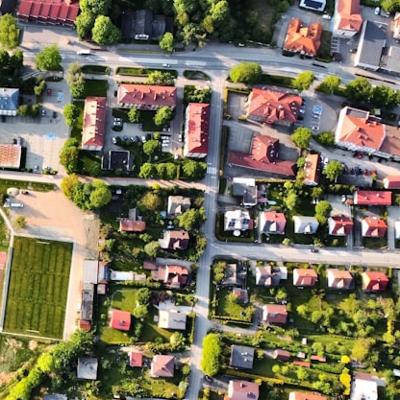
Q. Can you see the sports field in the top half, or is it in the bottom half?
bottom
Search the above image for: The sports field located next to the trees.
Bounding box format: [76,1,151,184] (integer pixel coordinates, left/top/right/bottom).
[0,234,74,340]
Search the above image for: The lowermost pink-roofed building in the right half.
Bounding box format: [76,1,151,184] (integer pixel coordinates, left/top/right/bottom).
[232,379,259,400]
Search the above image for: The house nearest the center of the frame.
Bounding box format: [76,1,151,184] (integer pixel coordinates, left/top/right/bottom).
[165,193,191,215]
